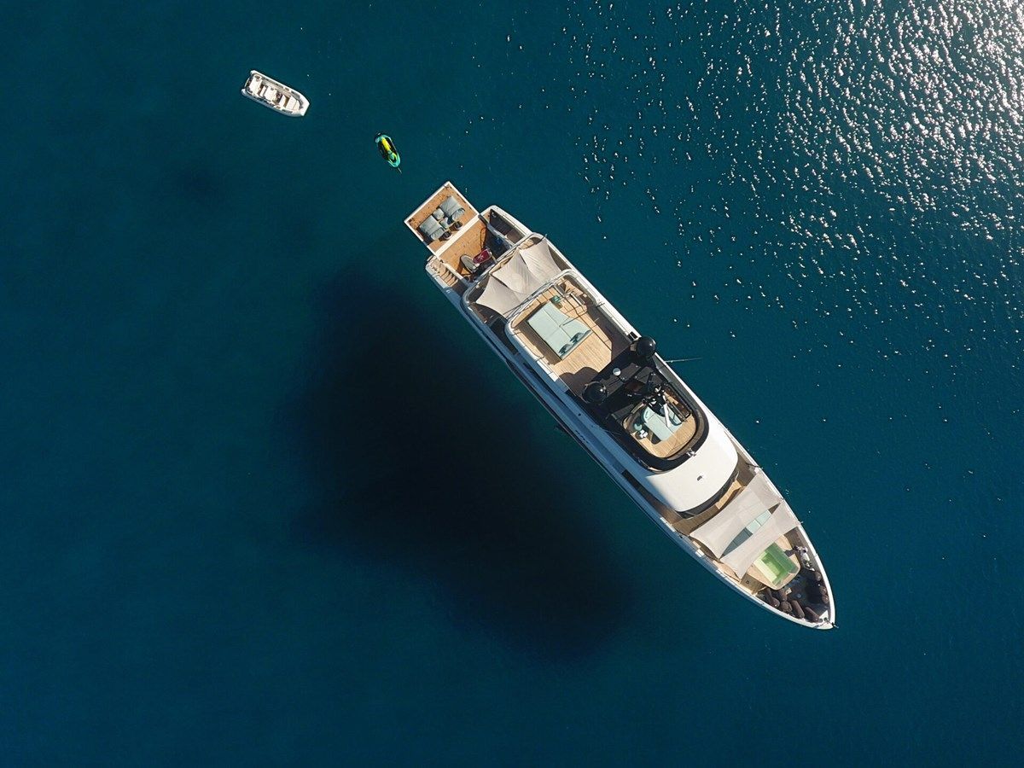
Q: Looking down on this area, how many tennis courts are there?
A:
0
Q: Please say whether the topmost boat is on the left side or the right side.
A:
left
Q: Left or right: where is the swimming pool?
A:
right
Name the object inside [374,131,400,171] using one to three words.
boat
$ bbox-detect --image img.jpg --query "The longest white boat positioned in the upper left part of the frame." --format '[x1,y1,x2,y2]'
[239,71,308,116]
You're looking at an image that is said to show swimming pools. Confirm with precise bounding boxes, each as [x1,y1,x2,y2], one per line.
[747,537,801,590]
